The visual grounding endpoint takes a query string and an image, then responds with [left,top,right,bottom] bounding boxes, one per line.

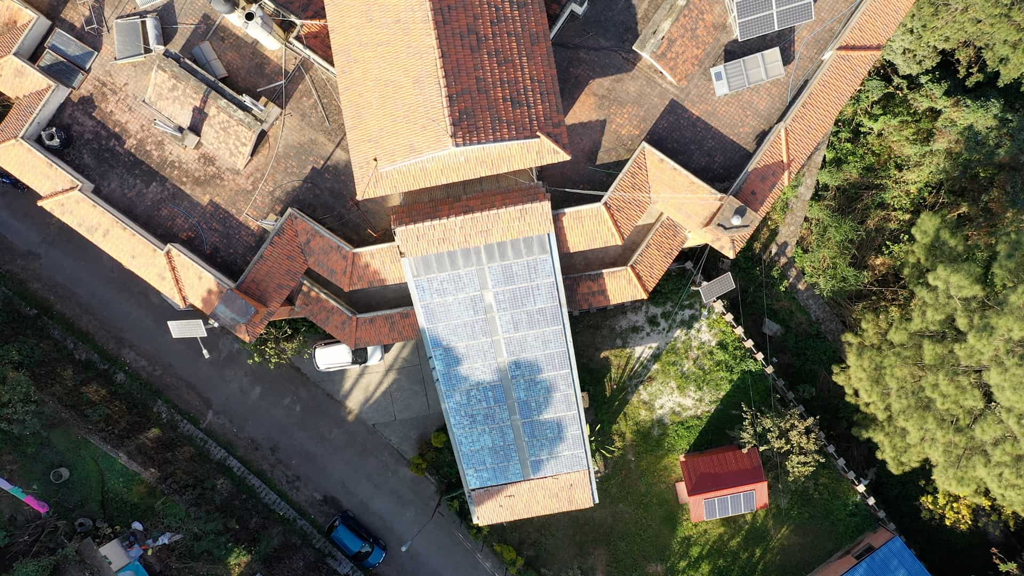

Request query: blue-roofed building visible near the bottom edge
[803,521,931,576]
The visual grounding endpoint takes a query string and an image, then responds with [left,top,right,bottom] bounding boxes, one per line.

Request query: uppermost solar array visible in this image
[726,0,815,54]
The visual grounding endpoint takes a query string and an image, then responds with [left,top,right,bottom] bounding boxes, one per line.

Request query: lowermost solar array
[704,490,756,520]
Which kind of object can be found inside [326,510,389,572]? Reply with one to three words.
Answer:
car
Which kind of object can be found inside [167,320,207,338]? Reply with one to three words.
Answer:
solar panel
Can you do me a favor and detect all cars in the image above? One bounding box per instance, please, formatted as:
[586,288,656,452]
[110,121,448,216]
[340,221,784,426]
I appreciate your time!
[312,342,383,374]
[326,510,389,572]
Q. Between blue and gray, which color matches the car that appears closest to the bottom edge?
blue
